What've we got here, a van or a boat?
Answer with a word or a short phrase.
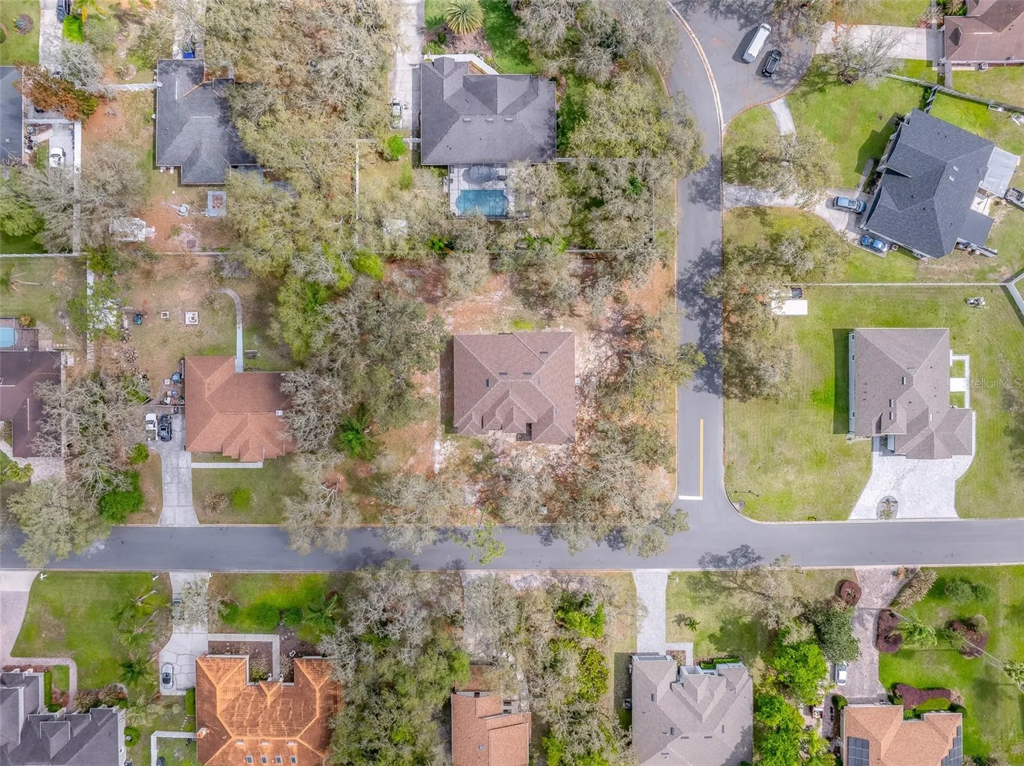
van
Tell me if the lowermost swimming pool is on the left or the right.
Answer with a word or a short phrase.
left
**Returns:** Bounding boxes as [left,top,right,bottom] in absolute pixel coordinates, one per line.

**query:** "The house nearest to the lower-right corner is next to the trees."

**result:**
[837,701,962,766]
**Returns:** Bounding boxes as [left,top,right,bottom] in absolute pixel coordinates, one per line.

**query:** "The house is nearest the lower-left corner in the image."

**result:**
[0,669,125,766]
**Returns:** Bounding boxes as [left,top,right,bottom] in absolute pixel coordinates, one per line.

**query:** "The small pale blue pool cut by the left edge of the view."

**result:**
[0,322,21,351]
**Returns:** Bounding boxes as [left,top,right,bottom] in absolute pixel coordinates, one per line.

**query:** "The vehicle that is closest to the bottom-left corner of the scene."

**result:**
[160,661,176,689]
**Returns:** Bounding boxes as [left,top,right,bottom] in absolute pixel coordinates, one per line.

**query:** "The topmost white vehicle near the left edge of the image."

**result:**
[49,148,67,175]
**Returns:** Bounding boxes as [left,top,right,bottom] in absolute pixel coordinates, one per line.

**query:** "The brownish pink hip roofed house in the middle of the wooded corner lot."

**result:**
[453,332,576,444]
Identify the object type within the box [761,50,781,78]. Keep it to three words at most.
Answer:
car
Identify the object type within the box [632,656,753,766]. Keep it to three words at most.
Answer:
house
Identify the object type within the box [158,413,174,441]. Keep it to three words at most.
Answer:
car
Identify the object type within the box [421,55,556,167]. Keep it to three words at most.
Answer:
house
